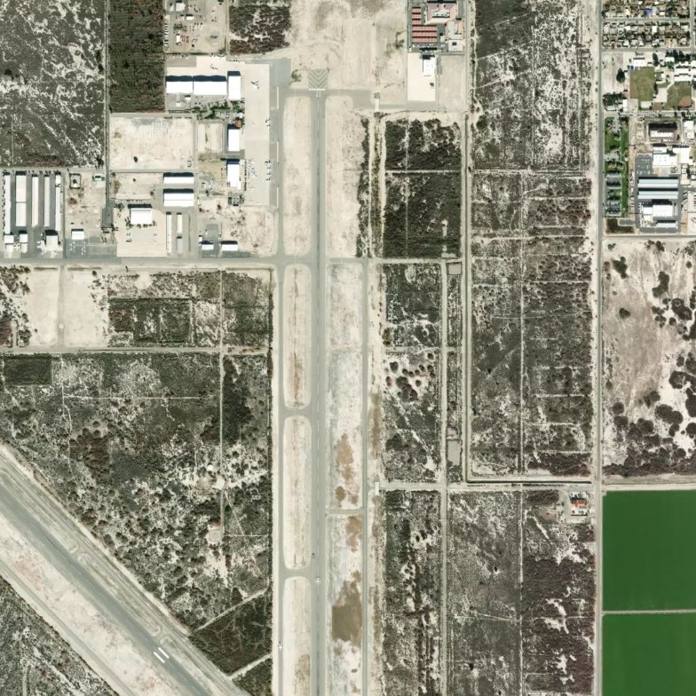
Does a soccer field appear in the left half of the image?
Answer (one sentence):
No, I can find no soccer field in the left half of the image.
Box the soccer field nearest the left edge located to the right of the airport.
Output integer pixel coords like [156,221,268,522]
[631,67,655,101]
